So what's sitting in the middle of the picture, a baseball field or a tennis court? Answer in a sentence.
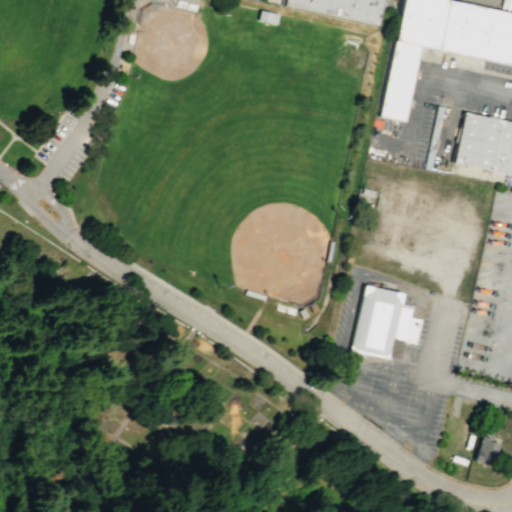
The one visible in the middle of the picture is a baseball field.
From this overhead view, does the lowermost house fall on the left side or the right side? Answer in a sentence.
The lowermost house appears in the right half of the scene.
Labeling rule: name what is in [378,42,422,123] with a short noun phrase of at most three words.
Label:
building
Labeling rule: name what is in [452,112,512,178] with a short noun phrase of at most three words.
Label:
building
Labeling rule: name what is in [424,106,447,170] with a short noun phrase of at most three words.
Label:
shed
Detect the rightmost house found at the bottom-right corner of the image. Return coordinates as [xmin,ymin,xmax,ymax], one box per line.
[476,434,504,466]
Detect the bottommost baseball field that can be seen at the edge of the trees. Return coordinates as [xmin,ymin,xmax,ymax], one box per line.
[130,106,346,306]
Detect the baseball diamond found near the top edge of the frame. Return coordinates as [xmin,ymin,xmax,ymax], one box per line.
[110,6,346,178]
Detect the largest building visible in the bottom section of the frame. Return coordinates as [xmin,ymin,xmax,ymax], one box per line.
[350,286,406,360]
